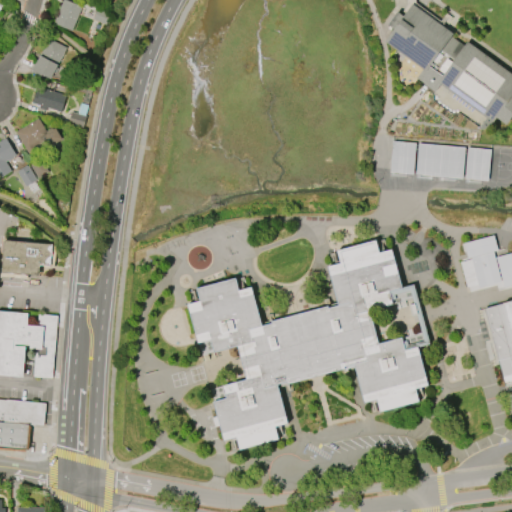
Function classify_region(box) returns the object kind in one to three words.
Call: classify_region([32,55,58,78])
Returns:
house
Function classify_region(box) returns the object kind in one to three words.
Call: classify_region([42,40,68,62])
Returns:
house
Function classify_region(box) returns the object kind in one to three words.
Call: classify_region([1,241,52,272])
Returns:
building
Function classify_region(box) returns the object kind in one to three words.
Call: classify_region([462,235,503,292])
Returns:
building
